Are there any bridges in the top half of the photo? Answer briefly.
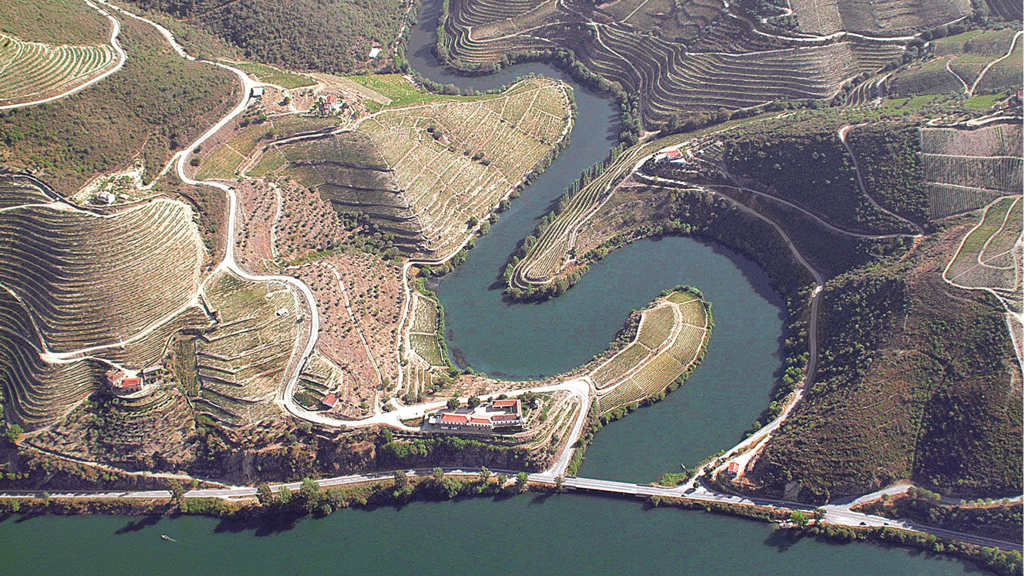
No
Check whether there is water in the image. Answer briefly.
Yes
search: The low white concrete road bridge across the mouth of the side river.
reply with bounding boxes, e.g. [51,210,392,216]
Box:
[562,472,657,503]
